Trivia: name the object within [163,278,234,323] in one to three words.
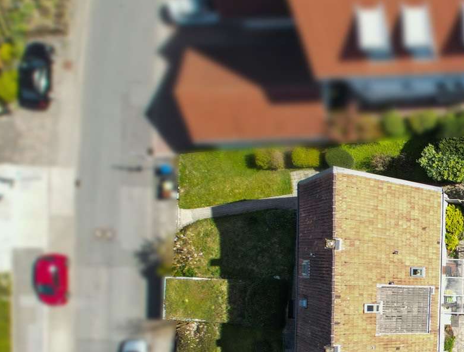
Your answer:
building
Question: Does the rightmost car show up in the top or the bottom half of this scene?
top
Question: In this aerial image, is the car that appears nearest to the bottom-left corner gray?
No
